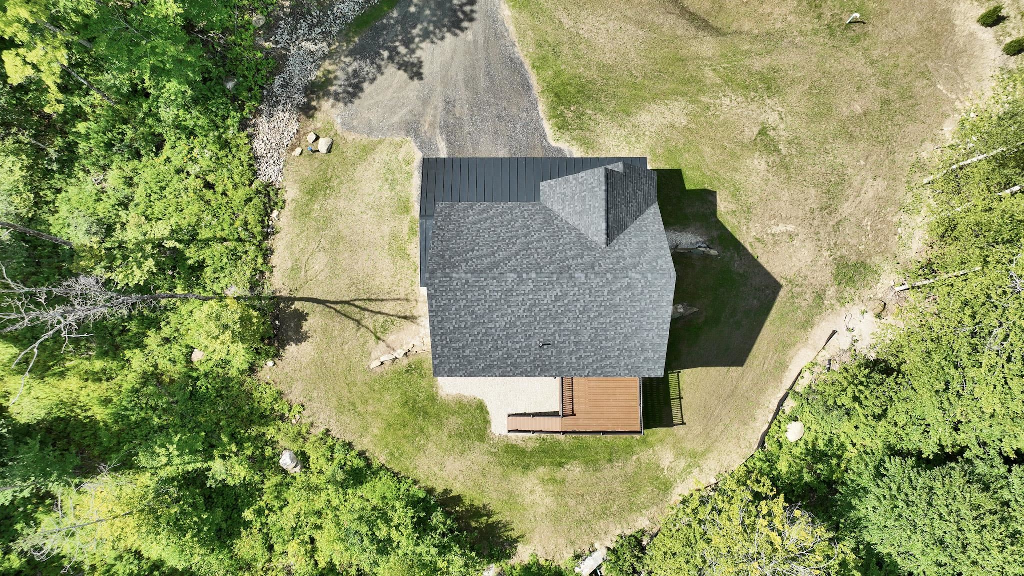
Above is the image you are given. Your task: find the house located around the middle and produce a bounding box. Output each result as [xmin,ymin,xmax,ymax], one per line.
[420,157,678,379]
